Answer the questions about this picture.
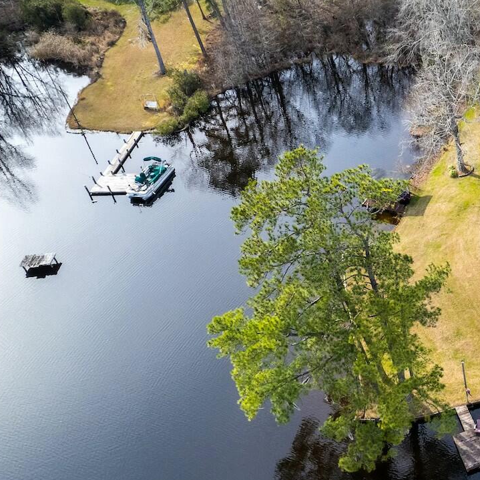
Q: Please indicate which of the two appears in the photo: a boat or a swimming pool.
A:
boat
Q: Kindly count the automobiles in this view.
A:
0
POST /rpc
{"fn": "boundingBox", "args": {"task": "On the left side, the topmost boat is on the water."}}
[122,153,184,203]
